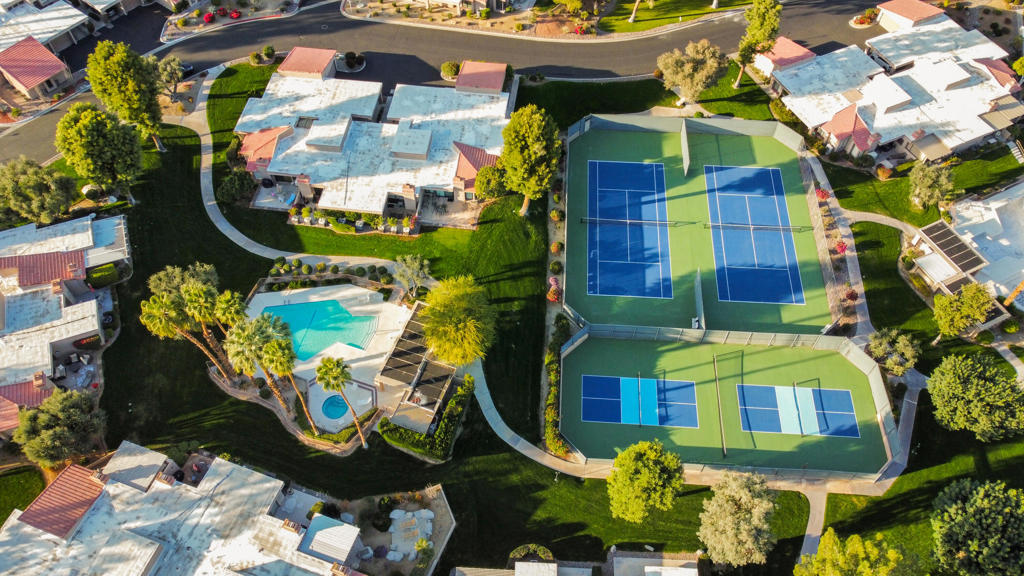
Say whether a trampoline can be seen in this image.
No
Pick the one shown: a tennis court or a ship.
tennis court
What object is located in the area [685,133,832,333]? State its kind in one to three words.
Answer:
tennis court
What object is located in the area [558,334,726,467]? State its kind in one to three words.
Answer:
sports court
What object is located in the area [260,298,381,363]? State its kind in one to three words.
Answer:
swimming pool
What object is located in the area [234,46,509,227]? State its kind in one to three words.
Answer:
house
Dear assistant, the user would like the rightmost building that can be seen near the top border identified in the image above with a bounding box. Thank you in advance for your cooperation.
[747,0,1024,176]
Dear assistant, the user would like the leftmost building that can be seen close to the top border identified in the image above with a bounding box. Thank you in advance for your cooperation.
[0,0,92,106]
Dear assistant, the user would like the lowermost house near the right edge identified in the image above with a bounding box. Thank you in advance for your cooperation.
[912,178,1024,339]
